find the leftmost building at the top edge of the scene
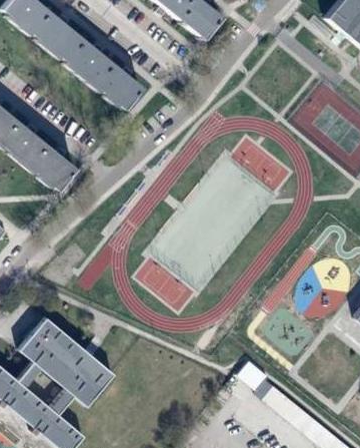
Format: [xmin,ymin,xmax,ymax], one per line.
[0,0,147,112]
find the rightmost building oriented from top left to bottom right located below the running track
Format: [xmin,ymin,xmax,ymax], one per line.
[261,386,346,448]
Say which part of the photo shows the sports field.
center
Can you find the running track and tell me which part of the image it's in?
center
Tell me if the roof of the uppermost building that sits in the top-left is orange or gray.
gray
